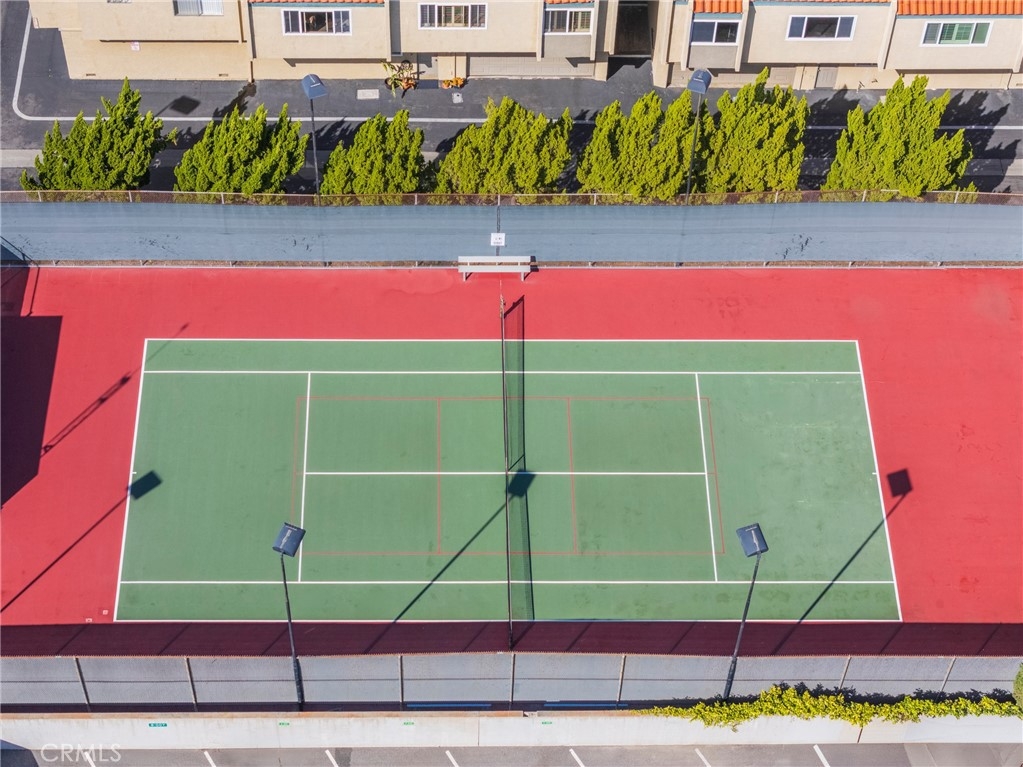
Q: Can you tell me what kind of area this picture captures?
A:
sports ground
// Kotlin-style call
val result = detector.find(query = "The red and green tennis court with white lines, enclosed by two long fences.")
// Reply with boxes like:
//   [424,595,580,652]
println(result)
[0,268,1023,712]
